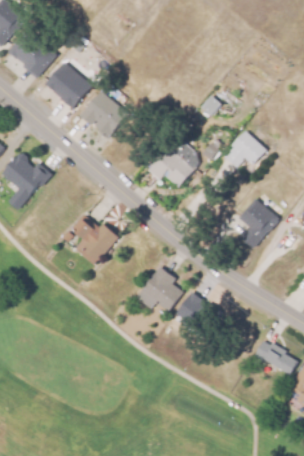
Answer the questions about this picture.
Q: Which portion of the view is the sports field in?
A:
bottom left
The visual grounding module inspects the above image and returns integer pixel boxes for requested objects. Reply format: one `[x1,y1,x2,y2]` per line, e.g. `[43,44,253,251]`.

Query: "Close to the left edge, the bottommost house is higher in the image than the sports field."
[2,153,54,210]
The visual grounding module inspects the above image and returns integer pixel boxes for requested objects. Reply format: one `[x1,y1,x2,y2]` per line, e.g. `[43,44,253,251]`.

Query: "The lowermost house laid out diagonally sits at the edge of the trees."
[258,336,300,375]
